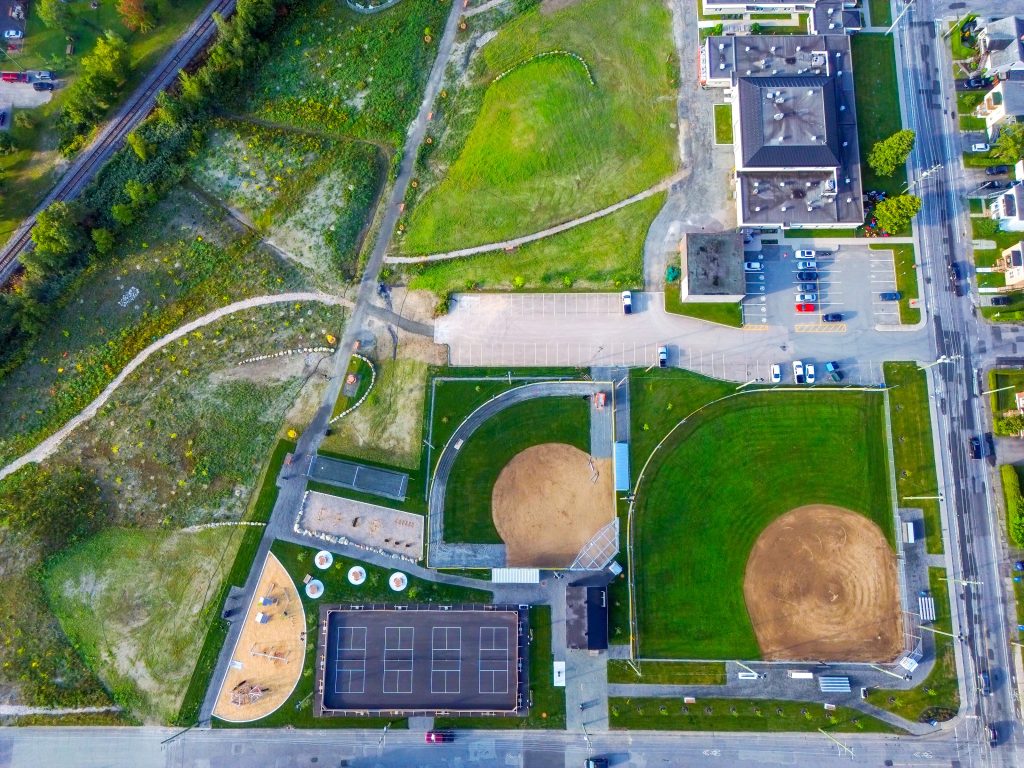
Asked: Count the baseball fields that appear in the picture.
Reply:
2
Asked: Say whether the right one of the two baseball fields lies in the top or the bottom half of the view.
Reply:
bottom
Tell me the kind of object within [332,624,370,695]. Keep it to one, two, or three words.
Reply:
sports court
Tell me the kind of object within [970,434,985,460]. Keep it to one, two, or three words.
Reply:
vehicle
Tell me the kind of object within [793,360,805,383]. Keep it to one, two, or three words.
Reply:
vehicle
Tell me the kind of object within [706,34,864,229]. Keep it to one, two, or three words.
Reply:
building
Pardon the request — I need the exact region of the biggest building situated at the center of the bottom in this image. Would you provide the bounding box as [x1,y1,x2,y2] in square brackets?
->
[566,587,609,657]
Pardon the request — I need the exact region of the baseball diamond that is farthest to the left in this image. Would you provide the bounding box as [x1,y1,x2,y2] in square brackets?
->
[428,383,618,569]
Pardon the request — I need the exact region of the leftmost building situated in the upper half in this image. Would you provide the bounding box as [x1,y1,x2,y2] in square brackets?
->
[681,233,746,301]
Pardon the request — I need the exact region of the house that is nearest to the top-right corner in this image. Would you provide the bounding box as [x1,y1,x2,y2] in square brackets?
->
[956,14,1024,77]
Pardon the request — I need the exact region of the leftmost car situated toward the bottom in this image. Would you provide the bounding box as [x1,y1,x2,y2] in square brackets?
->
[426,732,449,745]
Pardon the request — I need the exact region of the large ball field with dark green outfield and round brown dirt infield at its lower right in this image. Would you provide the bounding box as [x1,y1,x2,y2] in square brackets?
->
[630,389,905,665]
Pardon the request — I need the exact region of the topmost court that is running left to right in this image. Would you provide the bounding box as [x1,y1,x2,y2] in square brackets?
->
[307,454,408,501]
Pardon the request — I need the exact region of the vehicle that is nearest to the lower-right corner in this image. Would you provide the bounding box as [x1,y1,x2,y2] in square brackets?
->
[986,723,1002,748]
